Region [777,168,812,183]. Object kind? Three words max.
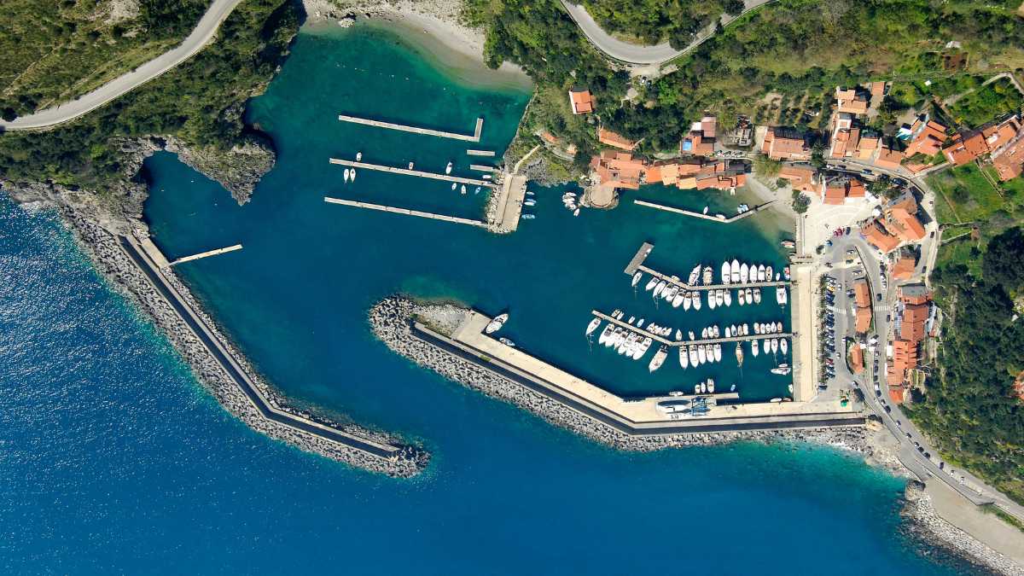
house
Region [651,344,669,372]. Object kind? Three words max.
boat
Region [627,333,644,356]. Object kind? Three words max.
boat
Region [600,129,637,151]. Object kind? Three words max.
house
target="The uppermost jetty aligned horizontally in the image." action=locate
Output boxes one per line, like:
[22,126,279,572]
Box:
[339,115,482,142]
